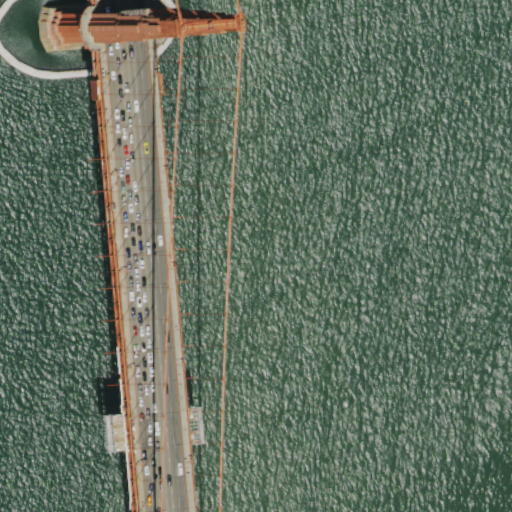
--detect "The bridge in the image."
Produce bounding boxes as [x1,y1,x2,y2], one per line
[37,0,248,512]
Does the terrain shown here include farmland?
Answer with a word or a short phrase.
No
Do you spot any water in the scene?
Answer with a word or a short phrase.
Yes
